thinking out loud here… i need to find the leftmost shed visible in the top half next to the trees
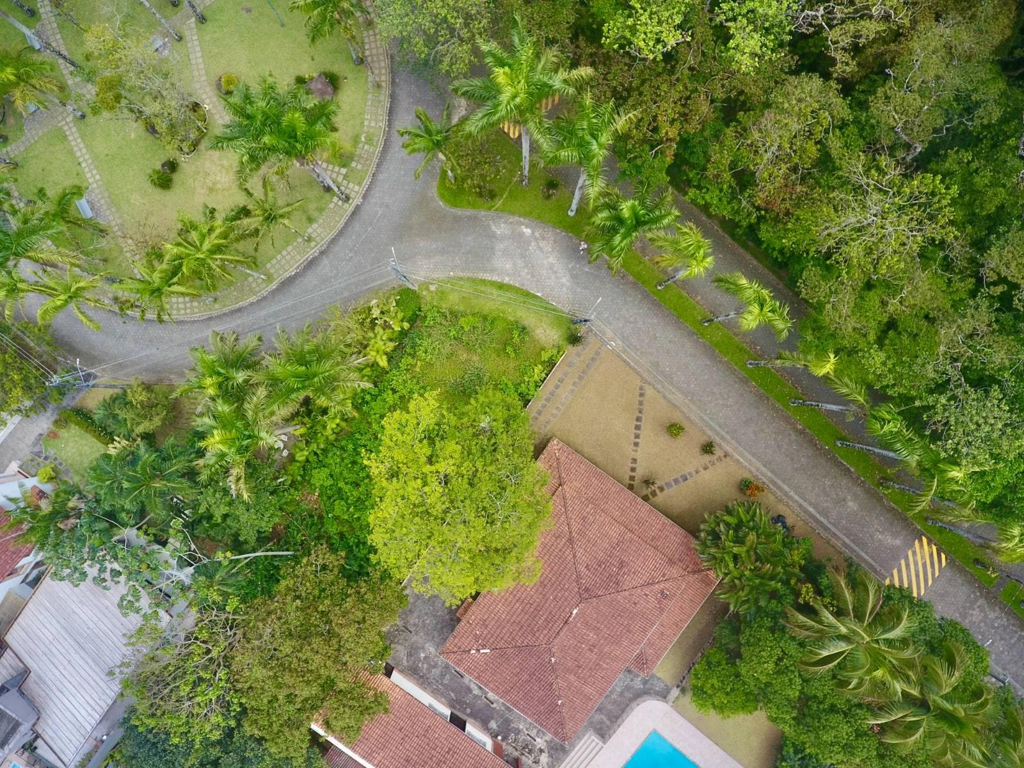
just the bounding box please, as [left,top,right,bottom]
[297,65,330,101]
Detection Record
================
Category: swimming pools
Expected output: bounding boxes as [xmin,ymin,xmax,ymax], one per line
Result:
[588,700,744,768]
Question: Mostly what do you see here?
trees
